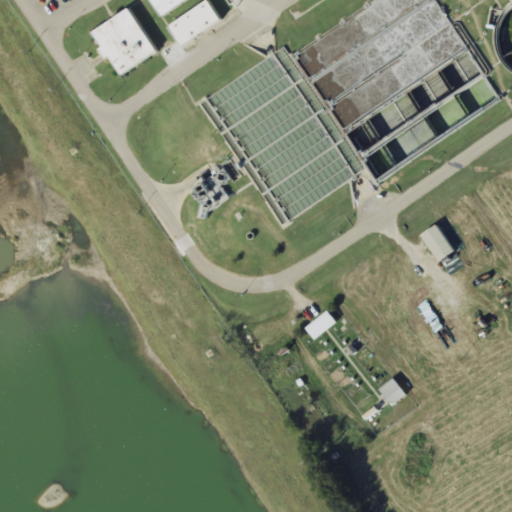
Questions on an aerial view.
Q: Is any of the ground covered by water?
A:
Yes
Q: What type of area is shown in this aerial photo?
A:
industrial area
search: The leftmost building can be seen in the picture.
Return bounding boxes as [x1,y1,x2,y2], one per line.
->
[90,8,157,76]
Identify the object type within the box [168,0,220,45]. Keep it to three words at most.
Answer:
building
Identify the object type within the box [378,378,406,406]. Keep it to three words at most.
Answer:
barn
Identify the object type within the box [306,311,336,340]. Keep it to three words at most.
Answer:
barn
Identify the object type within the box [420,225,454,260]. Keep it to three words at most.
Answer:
shed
